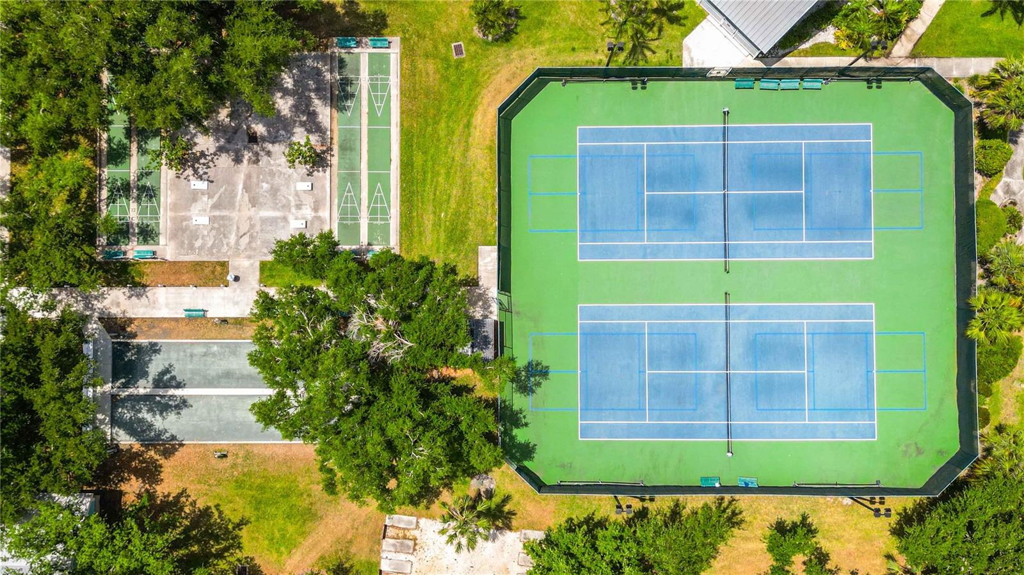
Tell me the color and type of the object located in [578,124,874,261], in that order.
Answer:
blue tennis court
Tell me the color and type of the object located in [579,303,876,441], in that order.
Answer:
blue tennis court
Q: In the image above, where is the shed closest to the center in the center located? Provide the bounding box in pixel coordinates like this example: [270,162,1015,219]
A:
[466,318,496,356]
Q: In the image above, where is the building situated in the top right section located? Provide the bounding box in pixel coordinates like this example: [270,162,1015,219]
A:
[680,0,822,66]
